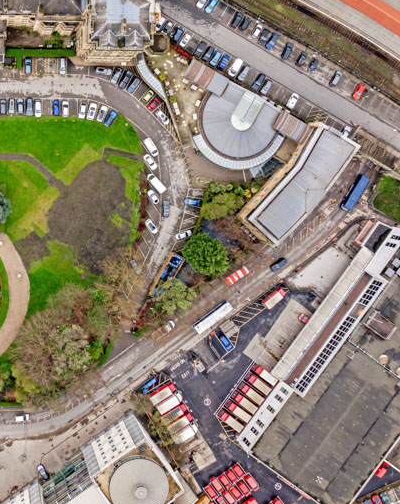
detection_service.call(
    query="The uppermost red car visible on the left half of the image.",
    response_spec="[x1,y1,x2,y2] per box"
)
[146,97,161,111]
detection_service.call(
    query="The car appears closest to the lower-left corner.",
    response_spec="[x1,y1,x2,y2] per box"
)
[37,462,50,479]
